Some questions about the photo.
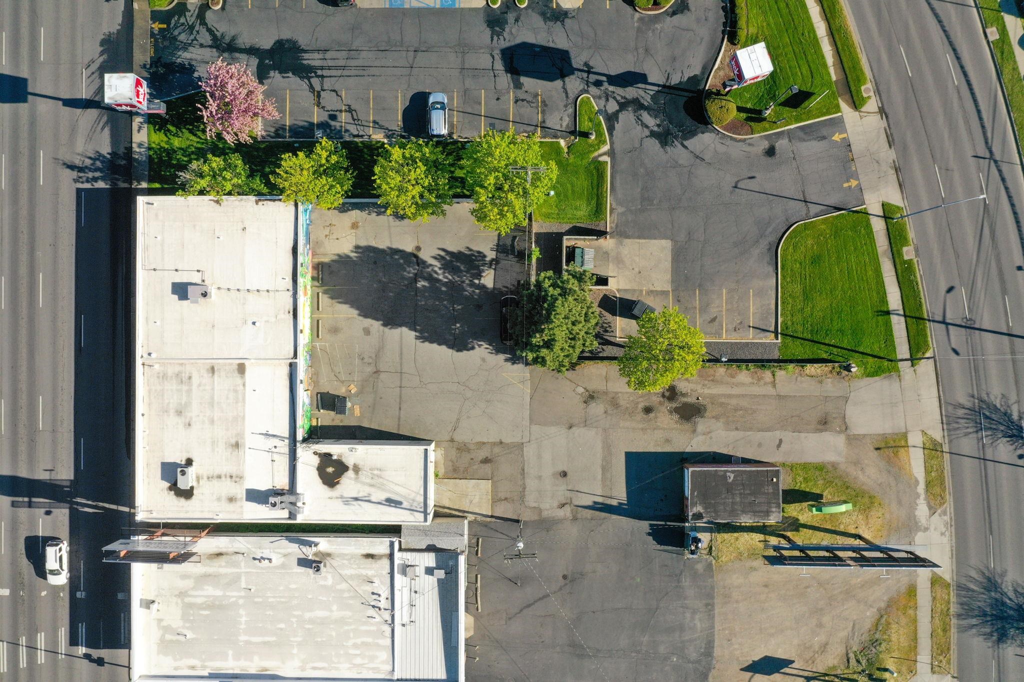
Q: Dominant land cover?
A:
paved ground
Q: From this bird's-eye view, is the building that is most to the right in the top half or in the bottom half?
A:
bottom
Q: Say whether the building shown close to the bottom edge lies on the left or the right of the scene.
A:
left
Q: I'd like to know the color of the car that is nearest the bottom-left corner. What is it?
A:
white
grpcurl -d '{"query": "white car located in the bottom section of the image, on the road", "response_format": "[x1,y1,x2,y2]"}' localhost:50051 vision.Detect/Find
[43,538,70,584]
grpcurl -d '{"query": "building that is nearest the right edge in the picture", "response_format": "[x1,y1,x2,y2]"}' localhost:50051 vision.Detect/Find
[684,456,781,522]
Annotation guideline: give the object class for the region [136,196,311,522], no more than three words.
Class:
building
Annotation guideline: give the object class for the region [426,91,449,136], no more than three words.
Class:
car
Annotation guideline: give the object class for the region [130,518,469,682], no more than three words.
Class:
building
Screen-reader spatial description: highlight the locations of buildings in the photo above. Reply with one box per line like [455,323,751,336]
[684,456,781,522]
[136,196,311,522]
[130,518,469,682]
